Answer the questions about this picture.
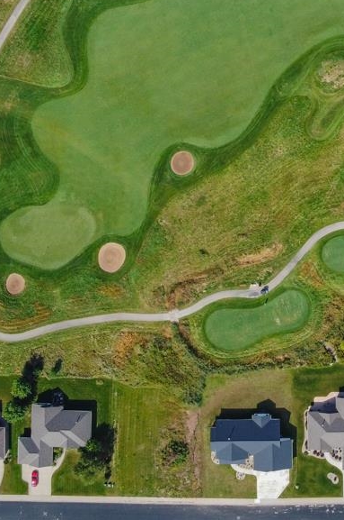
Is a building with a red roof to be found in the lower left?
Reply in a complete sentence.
No, no building with a red roof appears in the lower left.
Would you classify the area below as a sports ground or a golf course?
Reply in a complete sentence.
This looks like a golf course.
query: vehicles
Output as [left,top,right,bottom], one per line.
[248,284,259,289]
[261,286,270,294]
[30,469,38,486]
